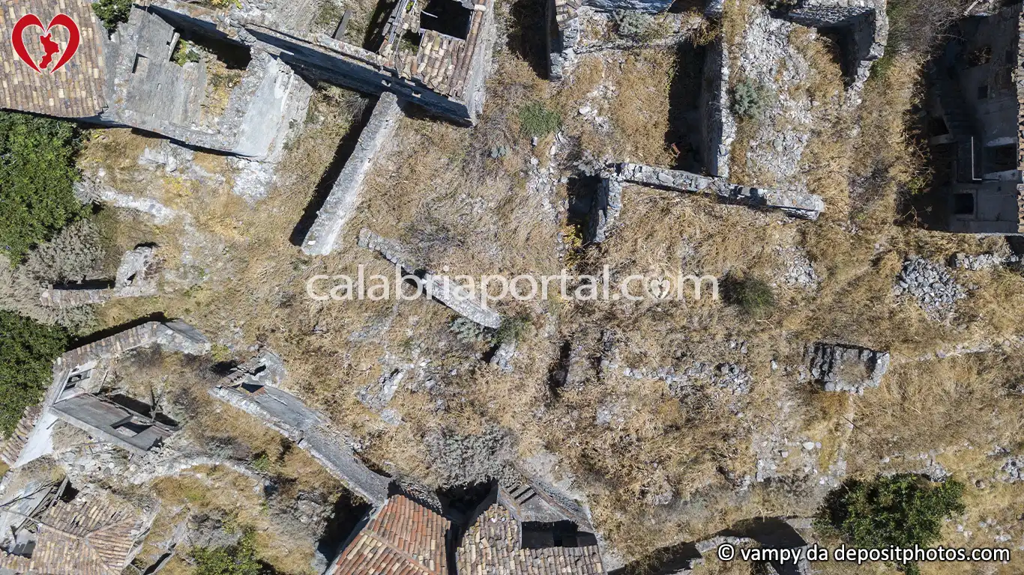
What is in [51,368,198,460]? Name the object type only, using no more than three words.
house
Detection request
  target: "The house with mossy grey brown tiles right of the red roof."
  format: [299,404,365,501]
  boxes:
[453,485,605,575]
